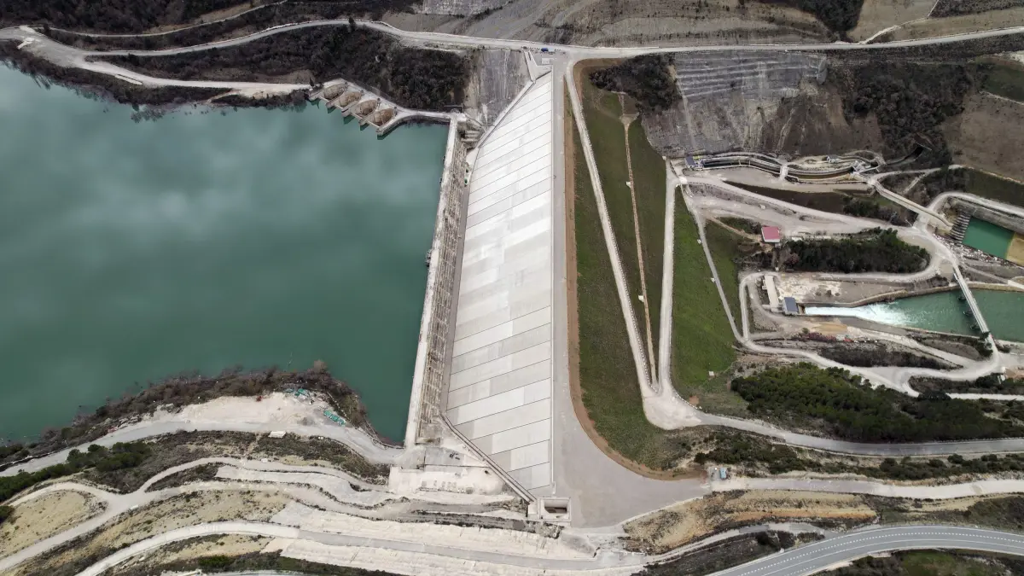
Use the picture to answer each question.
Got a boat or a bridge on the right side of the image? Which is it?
bridge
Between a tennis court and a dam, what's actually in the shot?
dam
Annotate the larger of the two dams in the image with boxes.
[439,52,761,526]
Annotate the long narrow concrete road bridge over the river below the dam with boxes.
[947,263,997,347]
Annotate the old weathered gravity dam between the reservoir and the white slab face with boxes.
[406,119,464,445]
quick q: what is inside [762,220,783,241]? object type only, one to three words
house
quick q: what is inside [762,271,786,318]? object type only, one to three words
building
